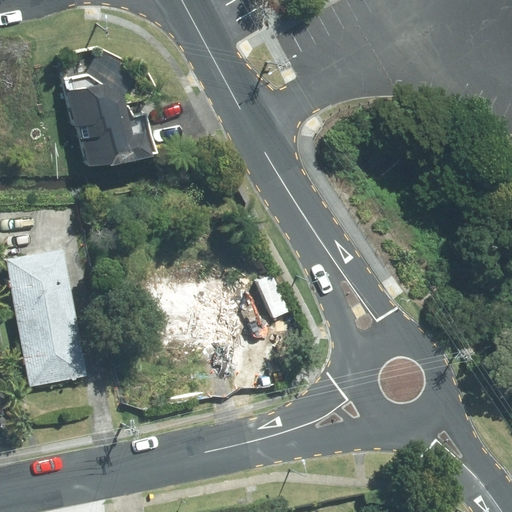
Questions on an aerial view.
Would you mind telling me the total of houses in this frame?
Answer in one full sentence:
Altogether the scene contains 2 houses.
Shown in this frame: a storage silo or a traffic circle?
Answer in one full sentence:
This aerial view contains a traffic circle.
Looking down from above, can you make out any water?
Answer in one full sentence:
No, there is no water in the image.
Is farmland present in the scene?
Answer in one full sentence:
No, there's no farmland in this view.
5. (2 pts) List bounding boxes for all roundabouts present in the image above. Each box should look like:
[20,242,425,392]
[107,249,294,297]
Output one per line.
[378,356,426,404]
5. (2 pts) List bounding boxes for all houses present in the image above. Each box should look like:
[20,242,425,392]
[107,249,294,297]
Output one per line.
[60,56,158,166]
[4,248,88,388]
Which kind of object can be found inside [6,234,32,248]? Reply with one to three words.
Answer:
vehicle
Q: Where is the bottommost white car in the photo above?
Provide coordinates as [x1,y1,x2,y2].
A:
[132,436,159,452]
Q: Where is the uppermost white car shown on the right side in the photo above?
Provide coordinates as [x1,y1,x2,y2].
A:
[308,264,334,295]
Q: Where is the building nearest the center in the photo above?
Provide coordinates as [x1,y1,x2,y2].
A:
[253,274,288,319]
